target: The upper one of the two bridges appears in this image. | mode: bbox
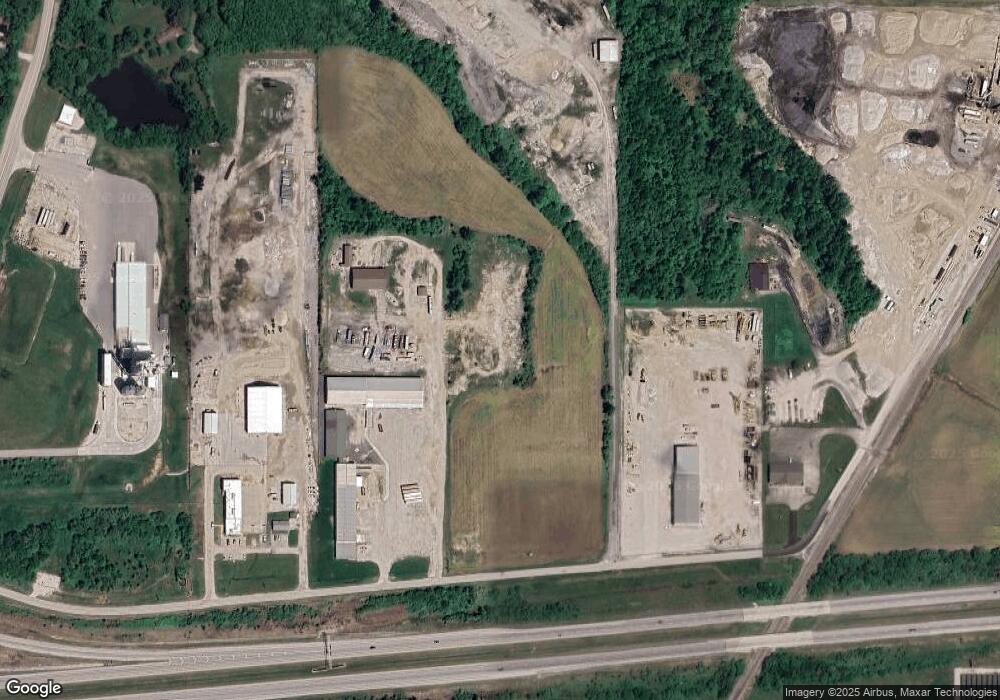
[742,600,832,623]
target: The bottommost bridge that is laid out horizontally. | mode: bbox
[725,632,814,655]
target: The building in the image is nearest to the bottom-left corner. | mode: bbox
[226,479,241,535]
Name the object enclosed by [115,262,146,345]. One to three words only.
building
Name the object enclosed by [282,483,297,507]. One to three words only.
building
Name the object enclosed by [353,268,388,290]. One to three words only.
shed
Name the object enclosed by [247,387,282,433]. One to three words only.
barn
